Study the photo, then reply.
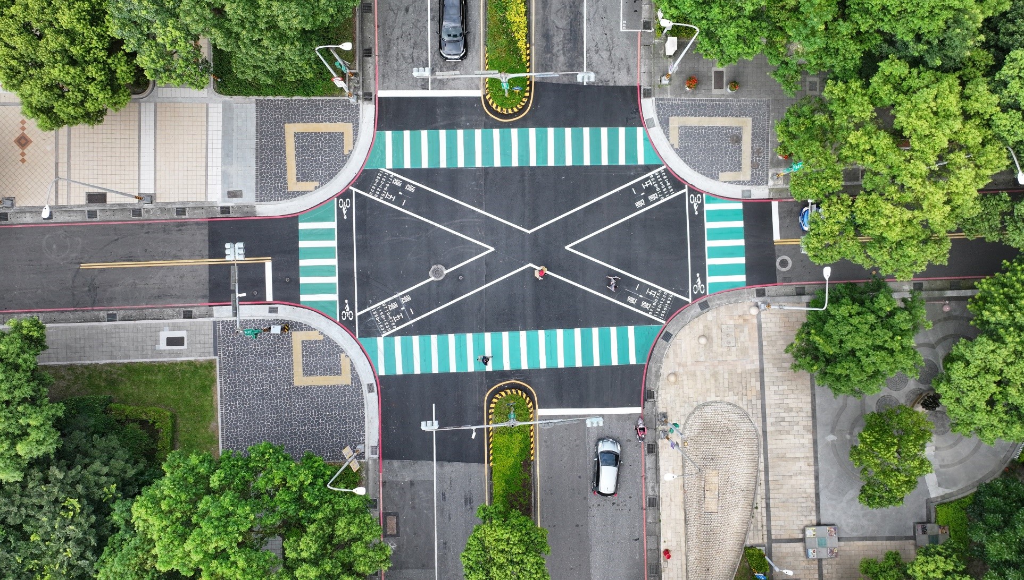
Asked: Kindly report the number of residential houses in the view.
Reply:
0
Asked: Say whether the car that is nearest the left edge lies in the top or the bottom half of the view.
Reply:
top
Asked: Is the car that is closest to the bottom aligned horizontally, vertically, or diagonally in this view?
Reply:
vertically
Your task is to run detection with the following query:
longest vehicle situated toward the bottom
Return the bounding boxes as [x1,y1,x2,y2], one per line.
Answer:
[591,435,623,498]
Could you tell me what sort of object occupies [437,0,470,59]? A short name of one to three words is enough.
car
